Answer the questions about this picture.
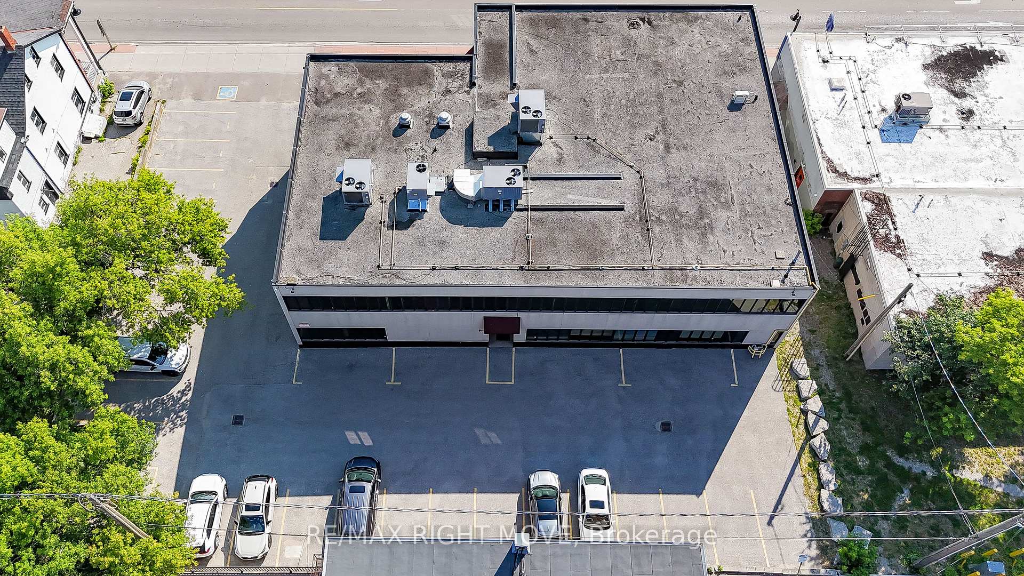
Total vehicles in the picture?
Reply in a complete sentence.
My tally gives 7 vehicles in this view.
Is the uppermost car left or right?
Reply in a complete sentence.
It is on the left.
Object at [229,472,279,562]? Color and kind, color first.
white car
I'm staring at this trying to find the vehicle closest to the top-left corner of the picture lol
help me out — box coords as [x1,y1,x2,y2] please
[108,78,152,133]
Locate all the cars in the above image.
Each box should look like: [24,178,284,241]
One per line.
[105,336,193,370]
[576,468,618,537]
[338,455,382,538]
[181,473,227,559]
[108,78,152,133]
[229,472,279,562]
[525,468,566,537]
